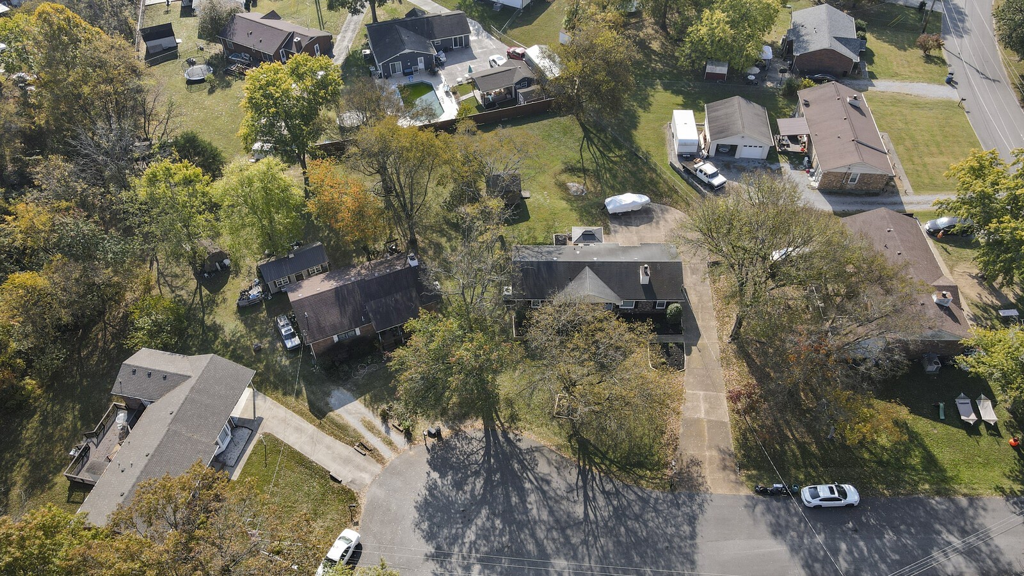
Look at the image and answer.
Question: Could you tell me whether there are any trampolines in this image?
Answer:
Yes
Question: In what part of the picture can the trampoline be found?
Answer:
top left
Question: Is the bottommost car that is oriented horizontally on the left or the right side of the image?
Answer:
right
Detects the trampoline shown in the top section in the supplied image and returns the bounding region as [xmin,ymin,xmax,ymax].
[177,53,213,84]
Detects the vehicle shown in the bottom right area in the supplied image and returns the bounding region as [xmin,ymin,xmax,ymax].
[803,481,863,510]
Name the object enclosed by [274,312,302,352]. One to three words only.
car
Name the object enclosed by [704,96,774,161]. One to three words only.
building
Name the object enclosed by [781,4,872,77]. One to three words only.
house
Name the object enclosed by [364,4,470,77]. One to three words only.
house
